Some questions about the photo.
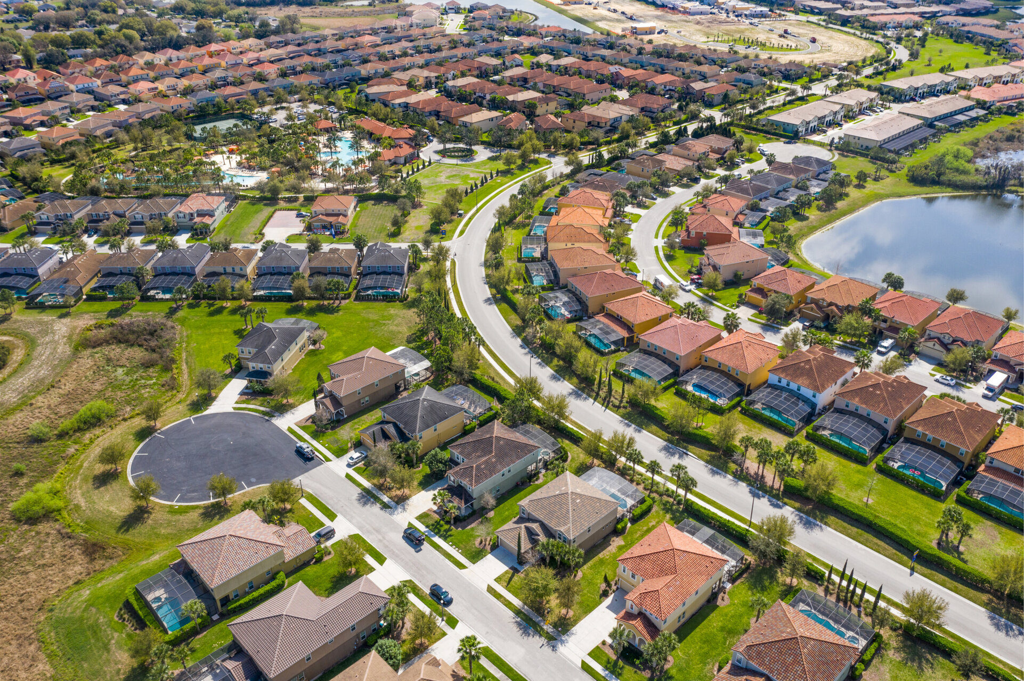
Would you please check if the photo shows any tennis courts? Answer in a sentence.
Yes, the frame does contain a tennis court.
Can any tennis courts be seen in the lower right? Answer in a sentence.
No, no tennis court is visible in the lower right.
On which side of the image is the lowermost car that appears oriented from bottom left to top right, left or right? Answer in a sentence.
The lowermost car that appears oriented from bottom left to top right sits on the left side.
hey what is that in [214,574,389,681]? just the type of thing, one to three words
house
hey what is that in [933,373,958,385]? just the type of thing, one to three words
vehicle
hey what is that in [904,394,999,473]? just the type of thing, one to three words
house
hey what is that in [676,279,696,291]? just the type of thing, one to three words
vehicle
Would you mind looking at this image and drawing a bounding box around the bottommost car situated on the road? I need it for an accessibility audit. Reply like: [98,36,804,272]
[428,582,453,605]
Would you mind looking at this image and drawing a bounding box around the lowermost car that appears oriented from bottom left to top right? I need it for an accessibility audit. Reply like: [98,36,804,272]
[310,520,339,543]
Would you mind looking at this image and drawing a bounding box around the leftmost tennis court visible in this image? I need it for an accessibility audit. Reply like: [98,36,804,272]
[178,108,266,140]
